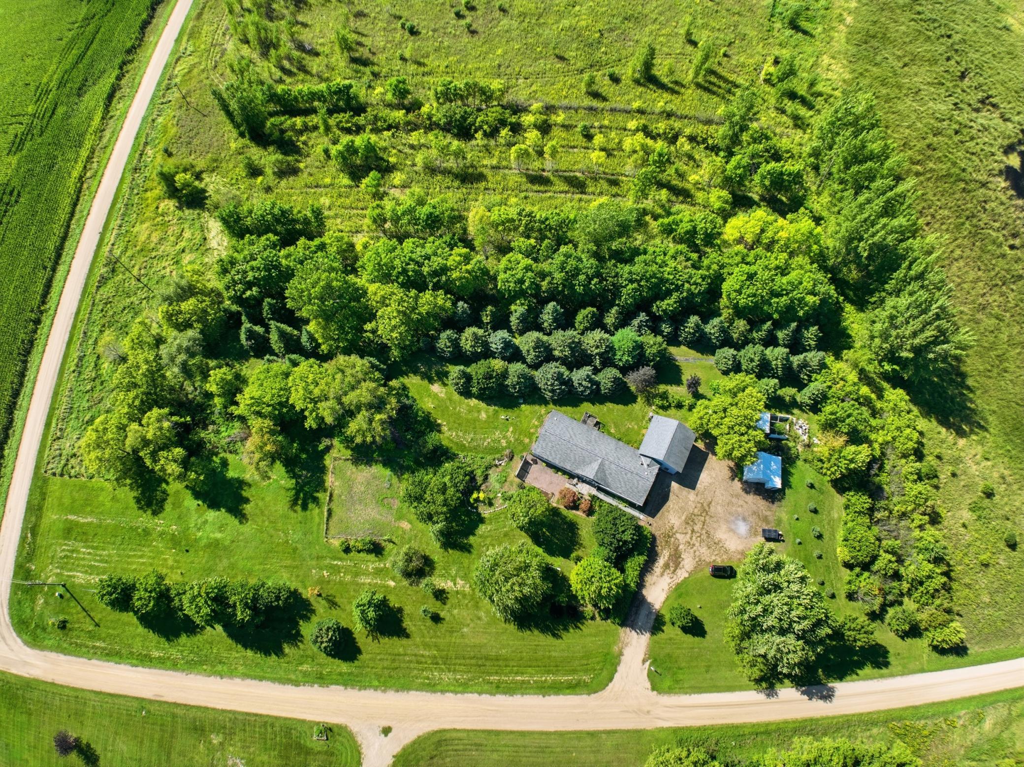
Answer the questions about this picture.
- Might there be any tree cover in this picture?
Yes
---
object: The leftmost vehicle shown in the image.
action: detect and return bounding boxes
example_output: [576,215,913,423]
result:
[710,566,735,578]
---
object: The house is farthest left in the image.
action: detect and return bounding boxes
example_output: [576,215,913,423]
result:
[532,411,661,506]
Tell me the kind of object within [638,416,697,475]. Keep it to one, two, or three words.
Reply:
building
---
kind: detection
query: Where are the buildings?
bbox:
[738,451,781,492]
[532,411,661,506]
[758,412,789,441]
